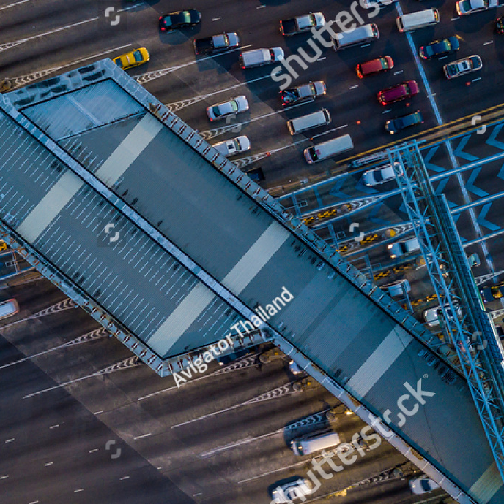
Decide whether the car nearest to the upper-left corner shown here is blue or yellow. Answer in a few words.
yellow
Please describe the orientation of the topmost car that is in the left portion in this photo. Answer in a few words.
from left to right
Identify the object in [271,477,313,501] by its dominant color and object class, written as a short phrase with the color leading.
white car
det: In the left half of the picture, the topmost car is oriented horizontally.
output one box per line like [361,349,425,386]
[160,10,199,30]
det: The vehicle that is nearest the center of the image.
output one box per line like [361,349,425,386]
[244,165,271,182]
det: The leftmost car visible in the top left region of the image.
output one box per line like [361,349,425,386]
[110,47,150,68]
